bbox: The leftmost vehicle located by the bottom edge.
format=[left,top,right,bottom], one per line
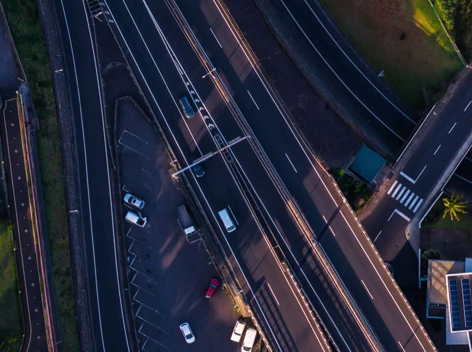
[178,322,195,345]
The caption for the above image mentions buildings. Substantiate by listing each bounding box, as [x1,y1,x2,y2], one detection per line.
[421,257,472,352]
[352,144,386,182]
